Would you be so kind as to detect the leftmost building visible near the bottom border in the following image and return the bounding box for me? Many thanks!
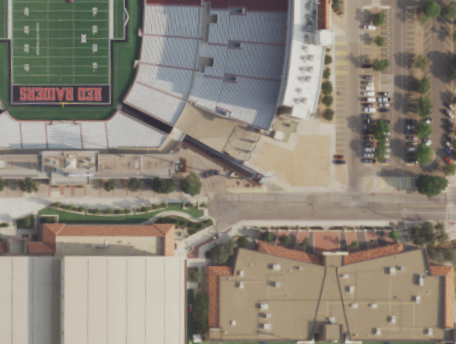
[0,254,186,344]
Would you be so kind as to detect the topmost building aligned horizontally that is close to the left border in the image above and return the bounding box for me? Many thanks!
[0,151,172,185]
